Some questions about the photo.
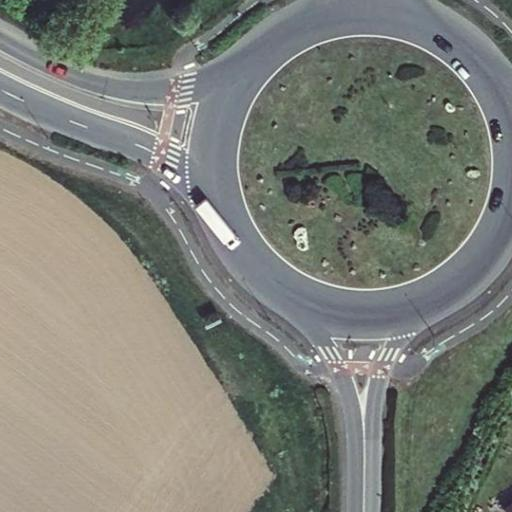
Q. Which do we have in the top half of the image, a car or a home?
car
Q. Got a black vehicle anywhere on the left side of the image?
No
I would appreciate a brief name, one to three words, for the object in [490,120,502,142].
vehicle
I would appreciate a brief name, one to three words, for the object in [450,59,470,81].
vehicle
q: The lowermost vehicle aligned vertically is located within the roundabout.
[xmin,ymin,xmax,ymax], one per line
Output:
[490,188,503,212]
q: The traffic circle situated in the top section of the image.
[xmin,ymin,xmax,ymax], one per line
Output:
[199,0,512,334]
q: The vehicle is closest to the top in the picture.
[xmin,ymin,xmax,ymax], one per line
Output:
[434,34,454,54]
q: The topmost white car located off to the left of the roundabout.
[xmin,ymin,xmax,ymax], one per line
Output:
[162,167,183,185]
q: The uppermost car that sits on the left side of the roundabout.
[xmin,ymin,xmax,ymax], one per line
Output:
[48,63,69,78]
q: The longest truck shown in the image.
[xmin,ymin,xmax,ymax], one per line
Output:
[196,200,242,250]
